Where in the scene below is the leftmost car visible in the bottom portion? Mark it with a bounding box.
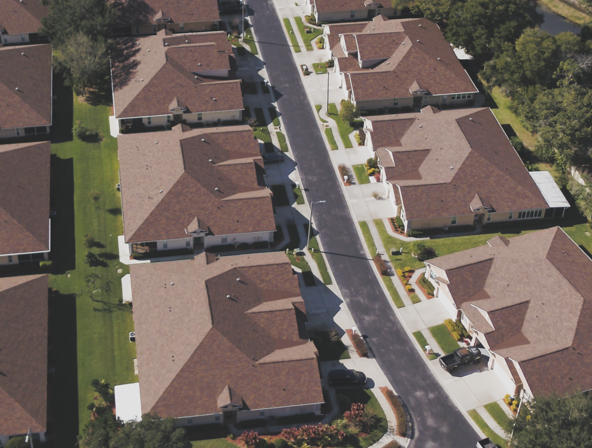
[329,366,368,386]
